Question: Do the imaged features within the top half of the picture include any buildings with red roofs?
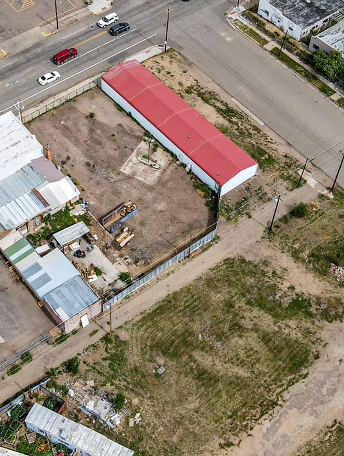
Yes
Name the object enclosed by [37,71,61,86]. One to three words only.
car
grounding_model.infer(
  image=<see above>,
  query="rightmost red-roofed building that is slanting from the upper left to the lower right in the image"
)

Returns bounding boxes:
[98,59,256,200]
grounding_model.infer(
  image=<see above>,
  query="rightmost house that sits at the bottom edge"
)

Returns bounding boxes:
[24,403,134,456]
